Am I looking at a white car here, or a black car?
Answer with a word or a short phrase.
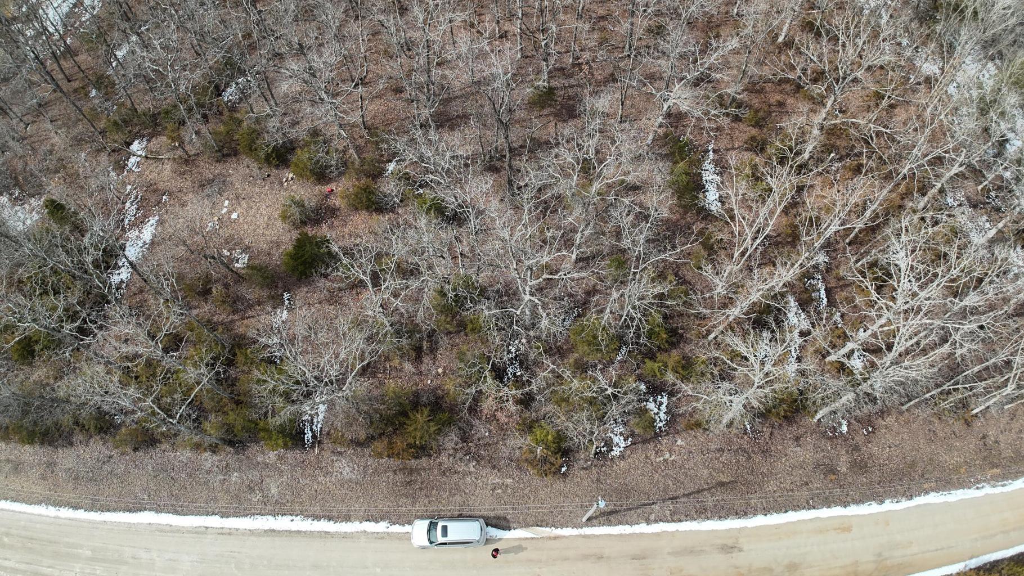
white car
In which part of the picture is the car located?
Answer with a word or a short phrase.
bottom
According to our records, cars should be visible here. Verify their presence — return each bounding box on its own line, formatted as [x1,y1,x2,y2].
[411,514,486,552]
